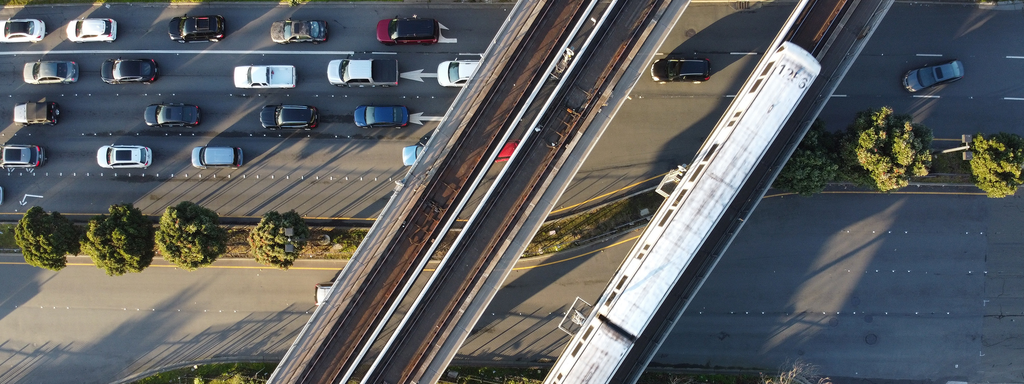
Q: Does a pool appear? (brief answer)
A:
No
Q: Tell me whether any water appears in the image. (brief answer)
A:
No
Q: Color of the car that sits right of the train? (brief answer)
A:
blue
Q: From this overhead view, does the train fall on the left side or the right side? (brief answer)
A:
right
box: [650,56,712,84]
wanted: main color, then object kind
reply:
black car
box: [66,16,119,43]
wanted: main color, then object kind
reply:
white car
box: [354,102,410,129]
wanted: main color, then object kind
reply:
blue car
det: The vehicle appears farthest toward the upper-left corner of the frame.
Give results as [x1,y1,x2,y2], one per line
[0,16,49,43]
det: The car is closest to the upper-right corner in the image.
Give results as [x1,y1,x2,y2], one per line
[902,60,965,94]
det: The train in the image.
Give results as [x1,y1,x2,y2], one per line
[549,43,819,384]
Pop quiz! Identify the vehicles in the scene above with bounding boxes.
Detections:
[377,16,440,45]
[192,143,244,170]
[271,17,329,45]
[902,60,965,94]
[14,99,63,126]
[97,142,154,170]
[327,57,401,86]
[24,58,81,85]
[402,142,423,166]
[66,16,119,43]
[437,58,478,86]
[168,13,227,42]
[101,57,161,84]
[260,102,320,130]
[0,16,49,43]
[144,101,202,128]
[354,102,410,129]
[650,56,712,84]
[0,142,47,169]
[234,62,298,89]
